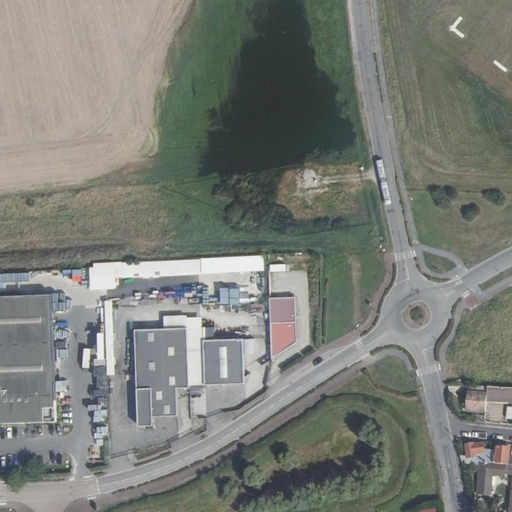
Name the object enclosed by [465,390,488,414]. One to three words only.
house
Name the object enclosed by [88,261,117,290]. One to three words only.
building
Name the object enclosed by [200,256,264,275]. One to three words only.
shed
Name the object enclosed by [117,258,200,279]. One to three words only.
shed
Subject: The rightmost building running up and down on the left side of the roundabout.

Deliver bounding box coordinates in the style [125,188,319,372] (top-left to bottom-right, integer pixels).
[270,297,296,358]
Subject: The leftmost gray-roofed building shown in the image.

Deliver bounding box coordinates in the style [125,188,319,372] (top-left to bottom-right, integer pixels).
[0,294,56,425]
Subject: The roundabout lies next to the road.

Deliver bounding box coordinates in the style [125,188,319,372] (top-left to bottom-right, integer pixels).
[366,254,466,366]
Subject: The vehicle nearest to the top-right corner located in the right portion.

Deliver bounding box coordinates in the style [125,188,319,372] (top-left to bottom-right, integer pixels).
[376,160,392,206]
